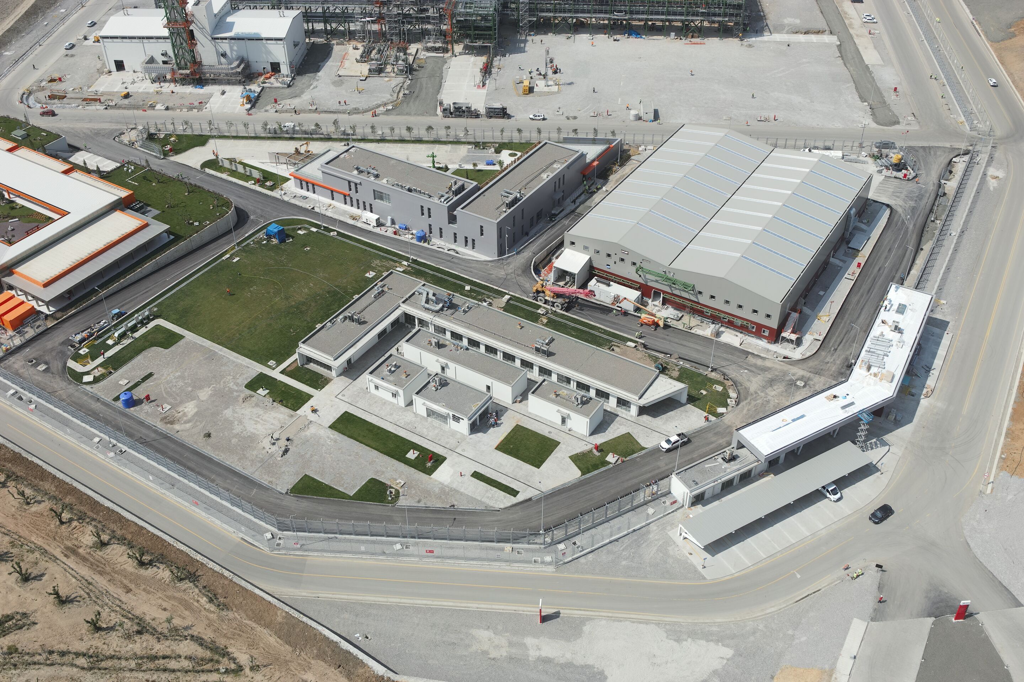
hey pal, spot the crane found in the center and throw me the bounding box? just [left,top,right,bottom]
[527,279,593,313]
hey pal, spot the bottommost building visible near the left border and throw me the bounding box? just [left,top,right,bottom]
[0,146,171,318]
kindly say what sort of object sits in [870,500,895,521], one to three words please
car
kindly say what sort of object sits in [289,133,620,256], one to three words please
building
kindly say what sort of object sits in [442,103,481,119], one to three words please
vehicle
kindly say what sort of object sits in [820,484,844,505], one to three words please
vehicle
